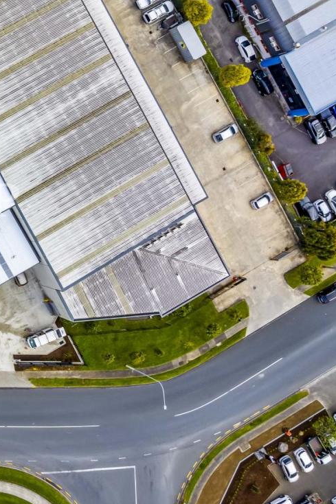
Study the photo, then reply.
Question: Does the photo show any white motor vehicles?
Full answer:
Yes, the photo shows a white motor vehicle.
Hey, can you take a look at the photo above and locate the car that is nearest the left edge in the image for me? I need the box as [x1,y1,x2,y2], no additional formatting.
[15,270,30,287]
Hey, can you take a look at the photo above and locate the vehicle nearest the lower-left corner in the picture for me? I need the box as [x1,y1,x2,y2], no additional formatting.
[27,326,68,347]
